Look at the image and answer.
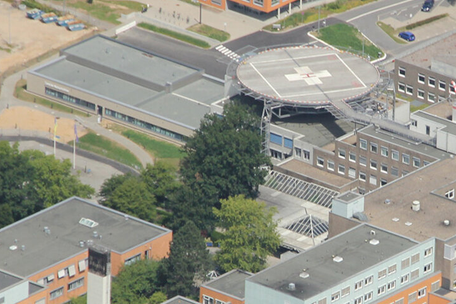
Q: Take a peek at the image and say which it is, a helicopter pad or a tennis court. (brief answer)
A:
helicopter pad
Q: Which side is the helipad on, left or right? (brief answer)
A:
right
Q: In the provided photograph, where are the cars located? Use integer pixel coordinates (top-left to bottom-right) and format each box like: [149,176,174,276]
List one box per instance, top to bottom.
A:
[422,0,434,9]
[398,30,416,39]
